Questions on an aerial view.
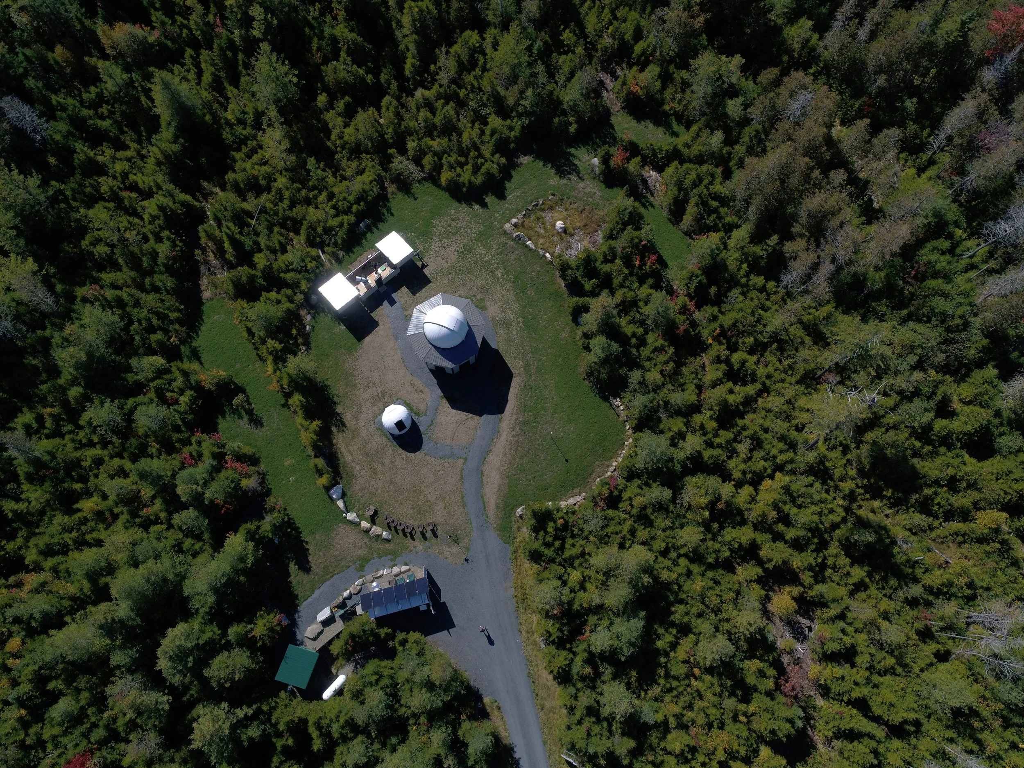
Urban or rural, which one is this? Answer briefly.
rural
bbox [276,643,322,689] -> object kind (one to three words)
shed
